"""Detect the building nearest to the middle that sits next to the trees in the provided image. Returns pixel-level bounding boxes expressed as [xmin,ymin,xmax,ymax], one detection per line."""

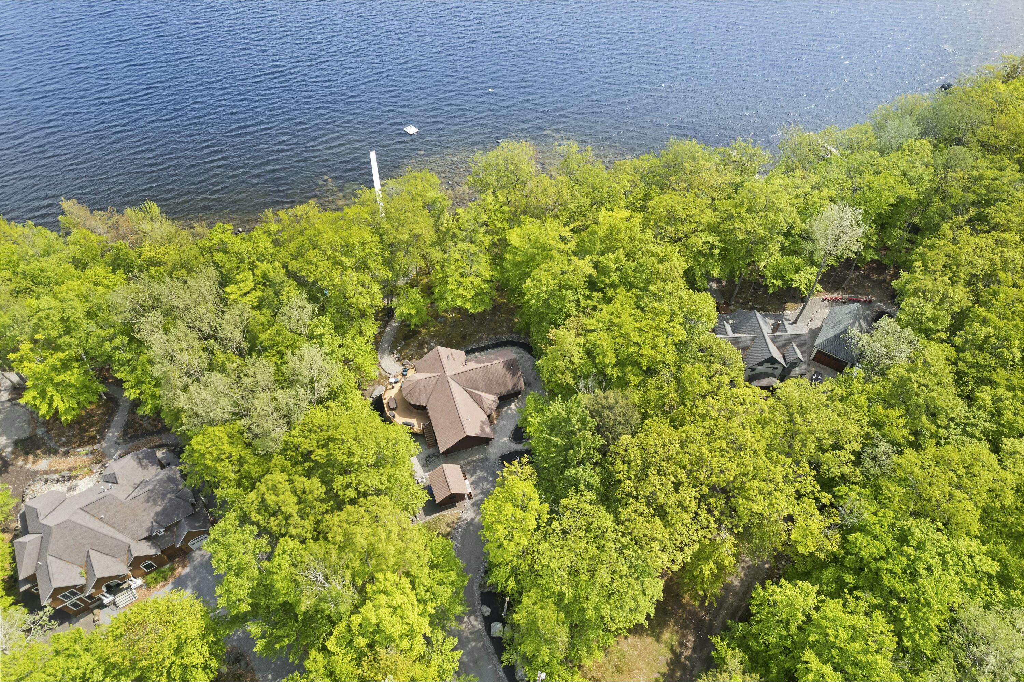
[382,347,524,459]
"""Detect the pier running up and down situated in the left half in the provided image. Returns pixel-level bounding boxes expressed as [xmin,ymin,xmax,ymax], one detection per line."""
[369,148,386,217]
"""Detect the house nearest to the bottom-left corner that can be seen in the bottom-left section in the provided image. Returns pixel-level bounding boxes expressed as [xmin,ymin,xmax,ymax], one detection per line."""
[14,448,214,617]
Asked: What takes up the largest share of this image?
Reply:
trees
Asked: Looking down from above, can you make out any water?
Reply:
Yes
